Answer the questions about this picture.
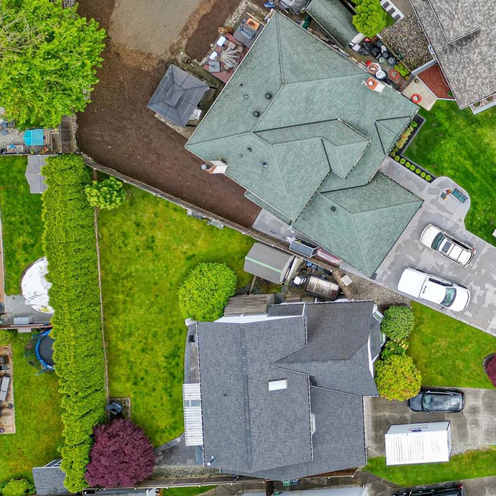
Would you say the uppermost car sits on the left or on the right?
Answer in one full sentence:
The uppermost car is on the right side of the image.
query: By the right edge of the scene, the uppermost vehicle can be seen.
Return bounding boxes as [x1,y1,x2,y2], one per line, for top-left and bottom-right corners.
[415,222,478,268]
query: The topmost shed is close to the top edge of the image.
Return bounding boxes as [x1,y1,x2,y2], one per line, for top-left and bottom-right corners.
[303,0,364,50]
